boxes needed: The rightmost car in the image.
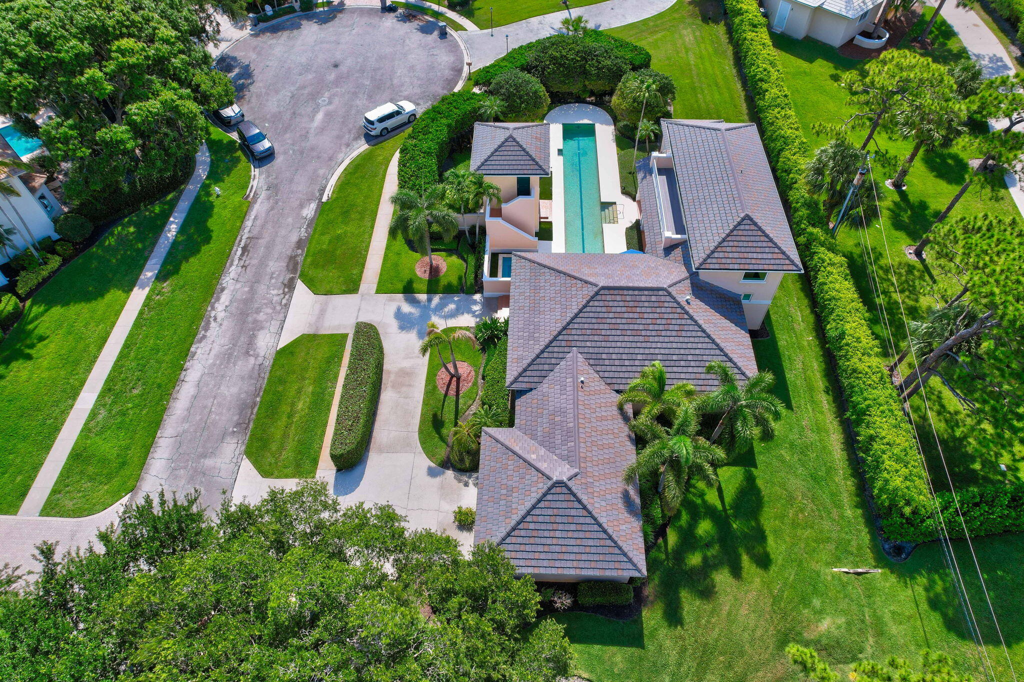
[360,99,420,136]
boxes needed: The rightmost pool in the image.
[557,123,629,252]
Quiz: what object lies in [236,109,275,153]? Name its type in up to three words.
car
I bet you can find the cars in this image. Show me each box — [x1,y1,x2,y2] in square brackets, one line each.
[360,99,420,136]
[202,83,247,121]
[236,109,275,153]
